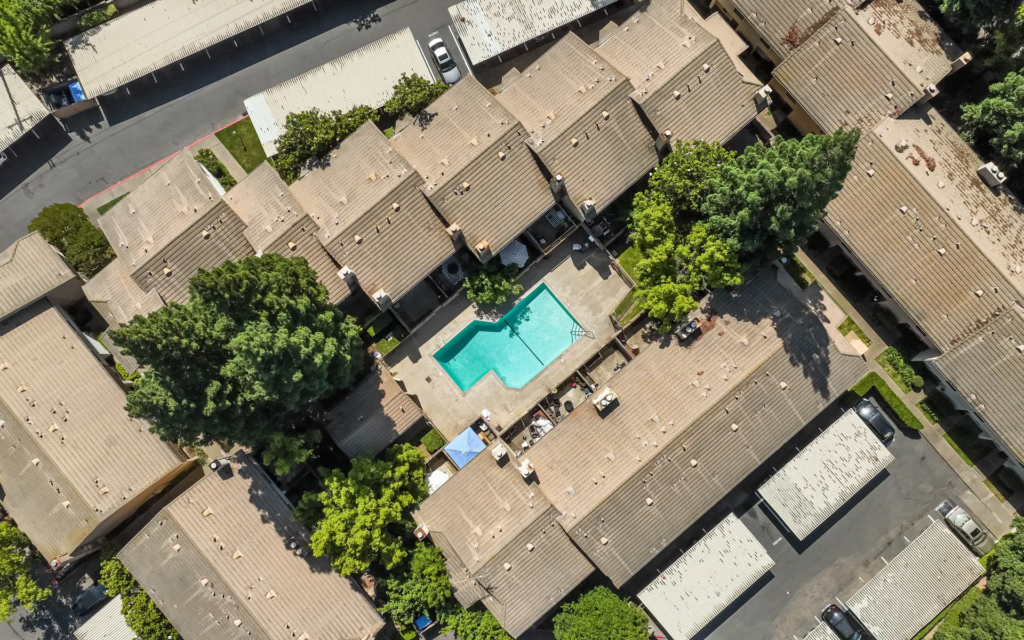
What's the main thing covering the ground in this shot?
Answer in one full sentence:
The scene is dominated by buildings.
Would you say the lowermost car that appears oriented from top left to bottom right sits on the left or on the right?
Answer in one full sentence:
The lowermost car that appears oriented from top left to bottom right sits on the right side.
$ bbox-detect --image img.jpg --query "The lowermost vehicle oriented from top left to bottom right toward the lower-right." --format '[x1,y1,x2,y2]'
[822,602,863,640]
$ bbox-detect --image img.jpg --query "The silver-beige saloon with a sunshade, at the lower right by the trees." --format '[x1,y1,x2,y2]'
[945,505,990,557]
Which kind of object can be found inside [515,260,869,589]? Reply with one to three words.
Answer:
building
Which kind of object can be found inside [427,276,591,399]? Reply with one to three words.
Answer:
swimming pool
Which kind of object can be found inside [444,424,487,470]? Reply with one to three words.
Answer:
tent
